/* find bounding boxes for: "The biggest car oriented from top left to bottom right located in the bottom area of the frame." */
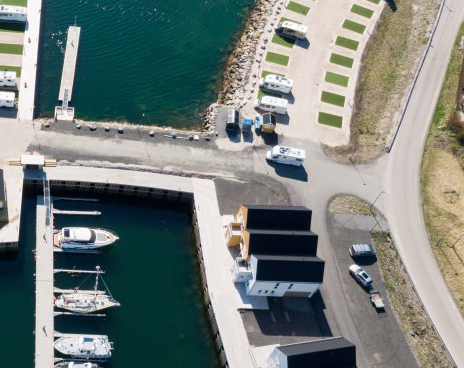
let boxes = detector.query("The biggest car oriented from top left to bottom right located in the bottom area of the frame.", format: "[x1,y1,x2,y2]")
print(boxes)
[347,264,374,289]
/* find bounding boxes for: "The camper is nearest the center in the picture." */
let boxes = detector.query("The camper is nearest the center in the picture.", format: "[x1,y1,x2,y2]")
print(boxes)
[261,148,304,169]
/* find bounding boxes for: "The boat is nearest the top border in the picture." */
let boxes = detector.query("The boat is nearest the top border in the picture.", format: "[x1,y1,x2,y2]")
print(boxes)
[53,227,121,248]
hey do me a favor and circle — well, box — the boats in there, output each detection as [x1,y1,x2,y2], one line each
[53,227,121,248]
[54,335,117,360]
[56,361,104,368]
[53,271,119,312]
